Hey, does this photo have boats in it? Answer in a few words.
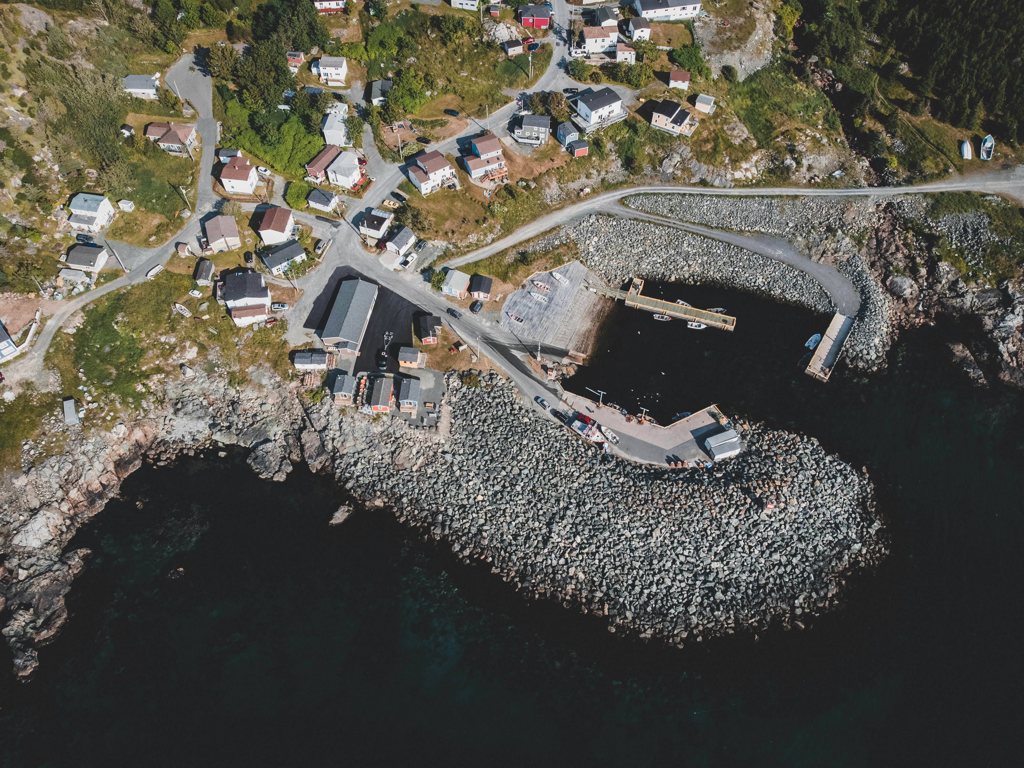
Yes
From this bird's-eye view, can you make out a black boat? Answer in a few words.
Yes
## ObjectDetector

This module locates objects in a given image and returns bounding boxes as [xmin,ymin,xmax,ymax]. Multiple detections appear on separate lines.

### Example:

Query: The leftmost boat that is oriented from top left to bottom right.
[174,299,192,316]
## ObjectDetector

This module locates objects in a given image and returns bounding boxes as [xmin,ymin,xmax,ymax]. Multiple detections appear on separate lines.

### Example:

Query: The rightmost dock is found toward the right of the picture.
[805,313,858,385]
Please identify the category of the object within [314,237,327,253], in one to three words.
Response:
vehicle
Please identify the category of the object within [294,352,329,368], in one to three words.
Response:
shed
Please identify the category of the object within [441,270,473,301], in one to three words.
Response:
building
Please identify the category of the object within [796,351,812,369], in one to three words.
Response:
boat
